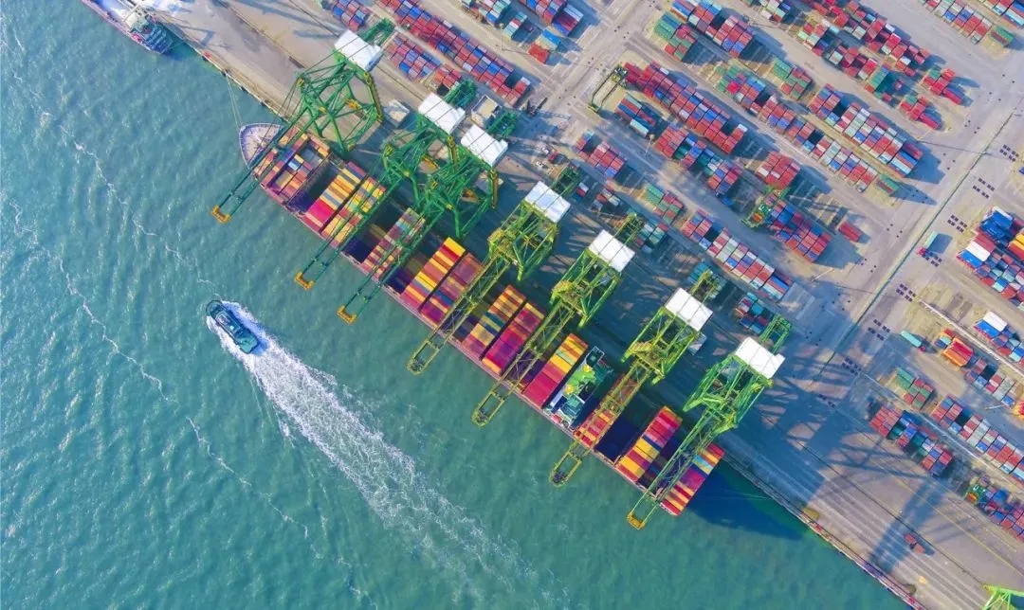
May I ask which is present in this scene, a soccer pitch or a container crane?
container crane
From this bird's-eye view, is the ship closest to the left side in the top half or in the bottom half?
top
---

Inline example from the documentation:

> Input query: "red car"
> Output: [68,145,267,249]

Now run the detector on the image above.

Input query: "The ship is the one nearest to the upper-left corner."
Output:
[82,0,176,57]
